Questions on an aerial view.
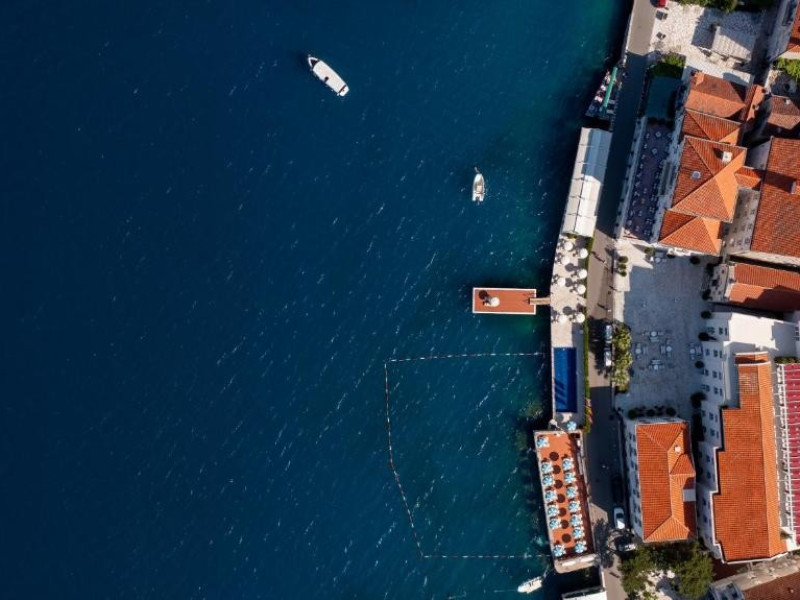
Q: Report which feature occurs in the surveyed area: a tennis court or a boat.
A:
boat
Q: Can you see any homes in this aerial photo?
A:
Yes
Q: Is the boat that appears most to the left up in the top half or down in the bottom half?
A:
top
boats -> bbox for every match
[517,573,544,591]
[473,166,485,203]
[308,55,353,100]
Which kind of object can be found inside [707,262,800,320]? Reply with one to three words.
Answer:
house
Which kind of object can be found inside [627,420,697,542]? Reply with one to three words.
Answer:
house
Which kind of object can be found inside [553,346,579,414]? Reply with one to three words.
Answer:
swimming pool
